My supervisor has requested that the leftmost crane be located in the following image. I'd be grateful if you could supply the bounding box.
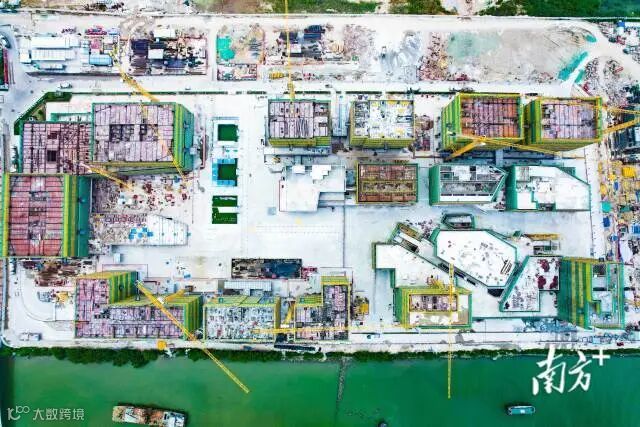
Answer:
[74,166,138,194]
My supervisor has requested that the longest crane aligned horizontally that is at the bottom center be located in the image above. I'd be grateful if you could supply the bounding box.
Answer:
[252,296,372,329]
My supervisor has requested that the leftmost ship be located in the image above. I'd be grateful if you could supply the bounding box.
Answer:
[112,403,187,427]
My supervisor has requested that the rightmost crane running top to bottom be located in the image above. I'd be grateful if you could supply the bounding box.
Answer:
[436,263,458,399]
